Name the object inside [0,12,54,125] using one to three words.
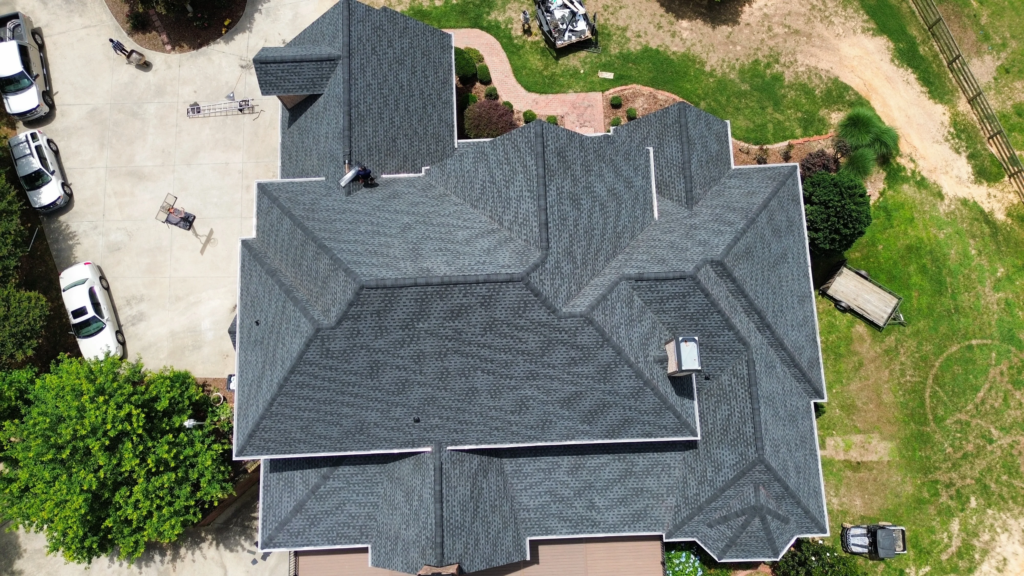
truck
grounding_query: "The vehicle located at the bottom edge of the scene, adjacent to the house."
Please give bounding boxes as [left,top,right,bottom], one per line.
[838,519,911,560]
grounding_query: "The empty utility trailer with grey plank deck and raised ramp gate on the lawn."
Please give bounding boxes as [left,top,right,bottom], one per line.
[821,258,911,328]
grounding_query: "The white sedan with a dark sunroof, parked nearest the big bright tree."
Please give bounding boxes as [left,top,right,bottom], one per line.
[57,263,125,368]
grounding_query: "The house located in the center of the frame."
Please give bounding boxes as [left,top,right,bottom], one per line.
[228,0,830,576]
